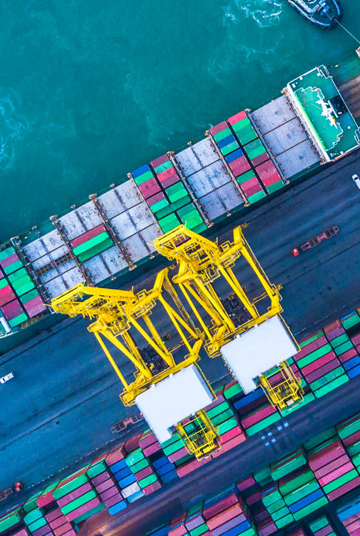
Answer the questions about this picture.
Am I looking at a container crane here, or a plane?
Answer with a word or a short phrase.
container crane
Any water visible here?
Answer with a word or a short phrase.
Yes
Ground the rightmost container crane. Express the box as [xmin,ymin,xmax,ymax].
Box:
[151,217,308,418]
